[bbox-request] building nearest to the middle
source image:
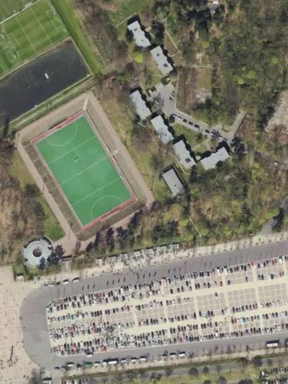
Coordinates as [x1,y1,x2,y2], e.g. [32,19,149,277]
[162,168,184,196]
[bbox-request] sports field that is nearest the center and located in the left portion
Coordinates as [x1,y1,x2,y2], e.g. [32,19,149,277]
[31,111,138,230]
